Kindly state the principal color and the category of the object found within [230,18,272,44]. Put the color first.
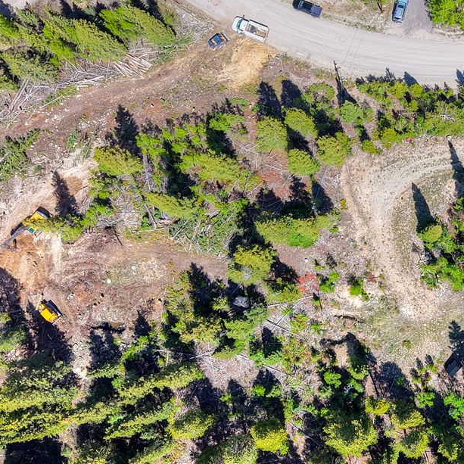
white truck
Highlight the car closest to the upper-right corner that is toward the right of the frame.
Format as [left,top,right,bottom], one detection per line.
[392,0,408,26]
